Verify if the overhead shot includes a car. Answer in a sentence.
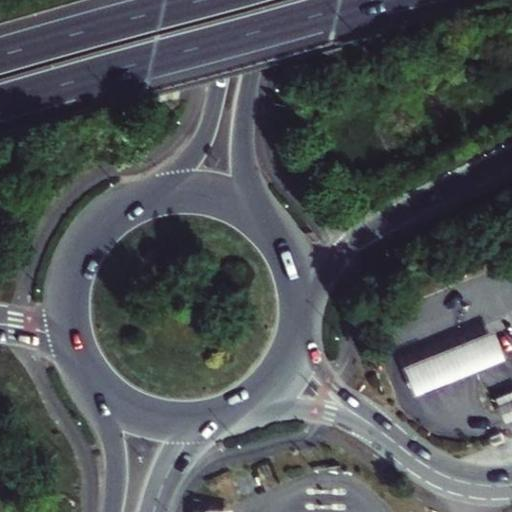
Yes, there's a car here.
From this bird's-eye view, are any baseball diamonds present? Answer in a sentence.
No, I can see no baseball diamond in this picture.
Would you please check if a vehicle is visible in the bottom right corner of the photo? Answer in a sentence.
Yes, a vehicle shows up in the bottom right corner of the photo.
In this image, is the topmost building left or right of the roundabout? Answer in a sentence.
Looking at the photo, the topmost building lies to the right of the roundabout.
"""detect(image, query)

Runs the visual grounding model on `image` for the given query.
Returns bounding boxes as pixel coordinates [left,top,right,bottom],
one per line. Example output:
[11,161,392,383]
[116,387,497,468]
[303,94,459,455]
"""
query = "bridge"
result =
[144,0,354,102]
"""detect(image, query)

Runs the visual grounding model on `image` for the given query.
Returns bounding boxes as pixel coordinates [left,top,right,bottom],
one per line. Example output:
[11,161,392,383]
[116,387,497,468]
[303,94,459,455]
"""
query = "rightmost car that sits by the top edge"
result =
[366,2,388,14]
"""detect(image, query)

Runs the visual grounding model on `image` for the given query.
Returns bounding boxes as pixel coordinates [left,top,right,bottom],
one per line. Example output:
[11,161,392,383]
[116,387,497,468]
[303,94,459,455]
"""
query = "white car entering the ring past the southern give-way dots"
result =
[200,421,219,440]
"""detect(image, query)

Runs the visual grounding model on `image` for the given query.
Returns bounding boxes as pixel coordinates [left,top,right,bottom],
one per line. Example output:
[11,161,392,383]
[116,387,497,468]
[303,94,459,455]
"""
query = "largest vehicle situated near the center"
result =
[279,246,298,280]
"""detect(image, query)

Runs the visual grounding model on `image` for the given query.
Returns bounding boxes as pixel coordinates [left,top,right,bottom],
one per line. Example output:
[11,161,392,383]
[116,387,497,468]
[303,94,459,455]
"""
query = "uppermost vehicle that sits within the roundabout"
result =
[128,204,147,222]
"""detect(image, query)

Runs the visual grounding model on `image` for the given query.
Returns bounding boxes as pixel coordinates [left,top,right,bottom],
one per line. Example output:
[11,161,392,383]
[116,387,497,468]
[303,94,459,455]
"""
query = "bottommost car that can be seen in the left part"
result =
[176,452,192,473]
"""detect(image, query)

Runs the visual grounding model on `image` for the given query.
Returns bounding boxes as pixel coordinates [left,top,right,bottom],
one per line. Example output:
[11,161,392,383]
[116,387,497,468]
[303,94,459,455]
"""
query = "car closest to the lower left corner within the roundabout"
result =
[96,396,110,416]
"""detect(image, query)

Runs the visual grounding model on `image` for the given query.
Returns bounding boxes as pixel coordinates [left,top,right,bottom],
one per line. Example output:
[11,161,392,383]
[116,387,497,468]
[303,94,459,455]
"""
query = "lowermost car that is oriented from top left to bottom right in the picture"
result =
[410,441,430,460]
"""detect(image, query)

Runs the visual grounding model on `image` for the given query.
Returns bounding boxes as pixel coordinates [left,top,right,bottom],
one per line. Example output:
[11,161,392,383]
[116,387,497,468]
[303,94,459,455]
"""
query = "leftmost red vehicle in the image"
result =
[71,331,84,351]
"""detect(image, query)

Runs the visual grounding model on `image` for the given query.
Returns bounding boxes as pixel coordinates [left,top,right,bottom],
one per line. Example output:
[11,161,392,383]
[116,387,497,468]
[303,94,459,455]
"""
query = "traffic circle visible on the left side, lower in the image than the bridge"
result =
[42,163,334,445]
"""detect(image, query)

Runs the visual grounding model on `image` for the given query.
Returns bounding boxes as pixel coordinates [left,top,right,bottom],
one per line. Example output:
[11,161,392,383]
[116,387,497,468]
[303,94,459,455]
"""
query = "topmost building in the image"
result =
[404,333,507,398]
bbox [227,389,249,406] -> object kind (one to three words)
car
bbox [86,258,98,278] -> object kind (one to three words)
vehicle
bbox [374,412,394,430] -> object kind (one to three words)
car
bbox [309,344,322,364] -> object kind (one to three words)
vehicle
